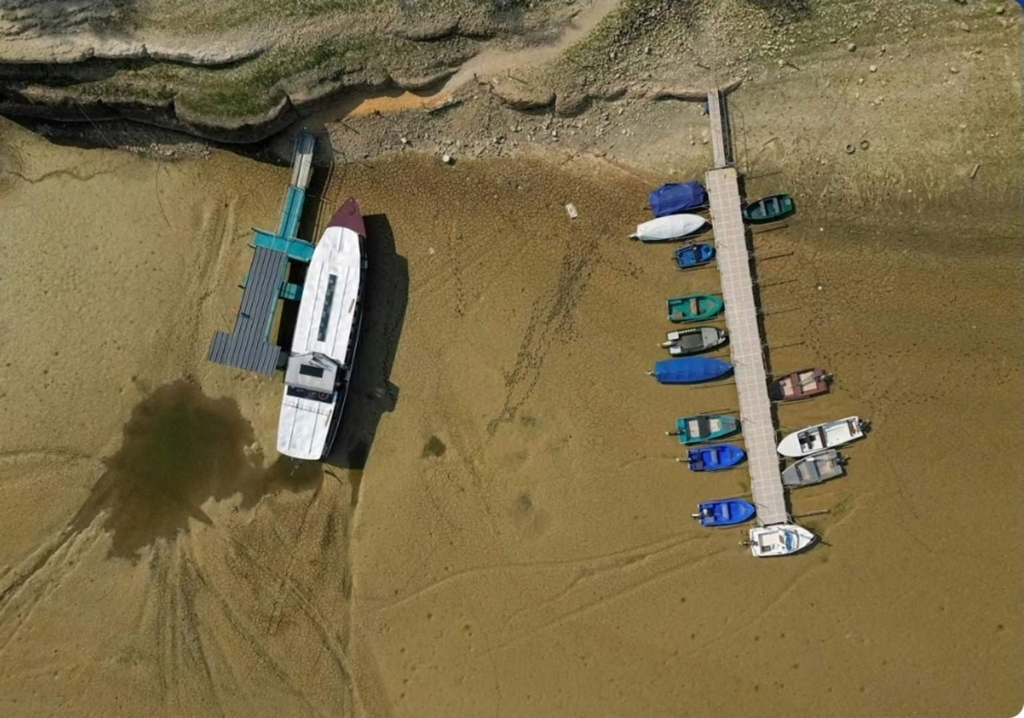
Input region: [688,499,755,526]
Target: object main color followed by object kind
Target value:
blue boat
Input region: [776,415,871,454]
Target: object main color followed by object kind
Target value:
white boat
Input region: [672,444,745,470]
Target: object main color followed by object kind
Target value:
blue boat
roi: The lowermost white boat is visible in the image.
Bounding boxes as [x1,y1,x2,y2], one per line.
[737,525,830,556]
